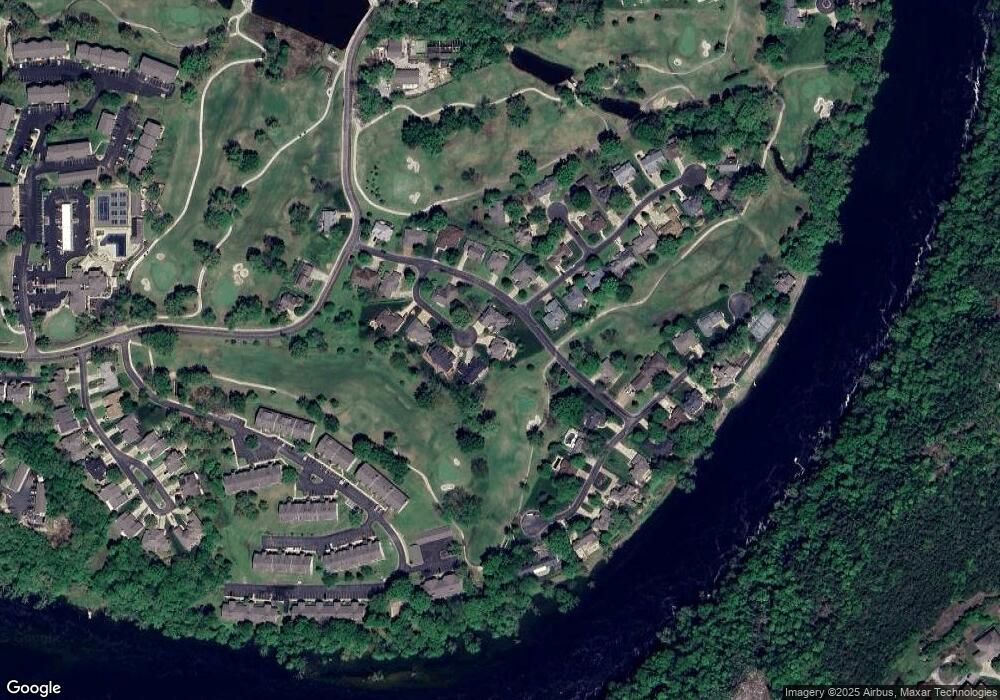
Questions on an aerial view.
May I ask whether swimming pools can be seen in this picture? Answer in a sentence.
Yes, the picture does show a swimming pool.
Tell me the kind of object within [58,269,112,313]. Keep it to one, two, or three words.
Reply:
building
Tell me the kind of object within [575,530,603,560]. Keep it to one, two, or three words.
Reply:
house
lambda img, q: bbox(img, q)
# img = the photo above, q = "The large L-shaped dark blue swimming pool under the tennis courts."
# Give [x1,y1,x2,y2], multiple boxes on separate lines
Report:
[97,231,130,259]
